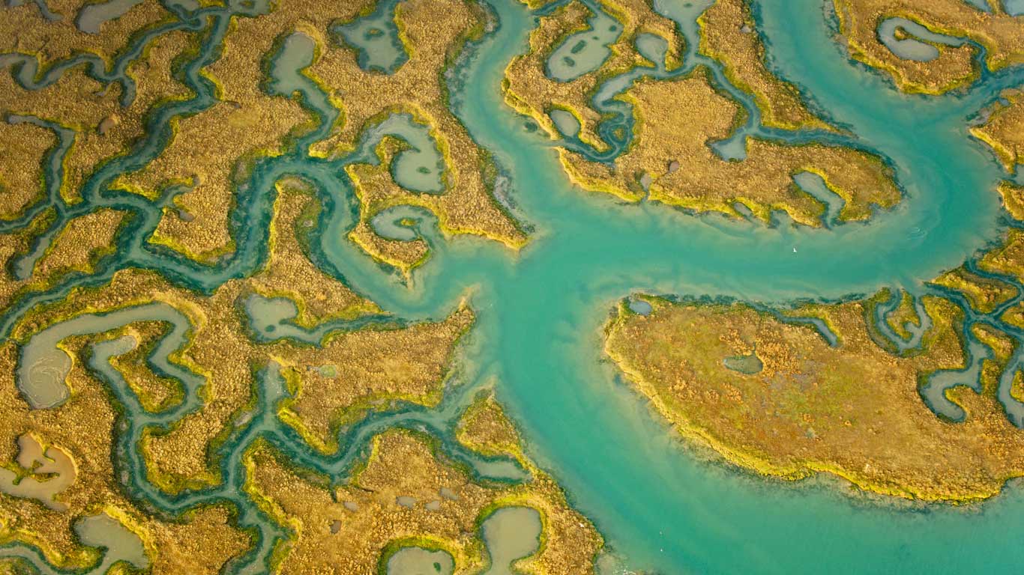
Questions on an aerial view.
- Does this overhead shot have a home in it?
No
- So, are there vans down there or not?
No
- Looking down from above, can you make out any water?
Yes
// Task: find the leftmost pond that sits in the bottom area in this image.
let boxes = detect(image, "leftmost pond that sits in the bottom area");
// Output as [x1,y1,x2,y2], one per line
[0,435,76,511]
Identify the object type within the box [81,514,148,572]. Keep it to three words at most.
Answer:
pond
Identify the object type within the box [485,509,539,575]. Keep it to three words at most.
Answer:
pond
